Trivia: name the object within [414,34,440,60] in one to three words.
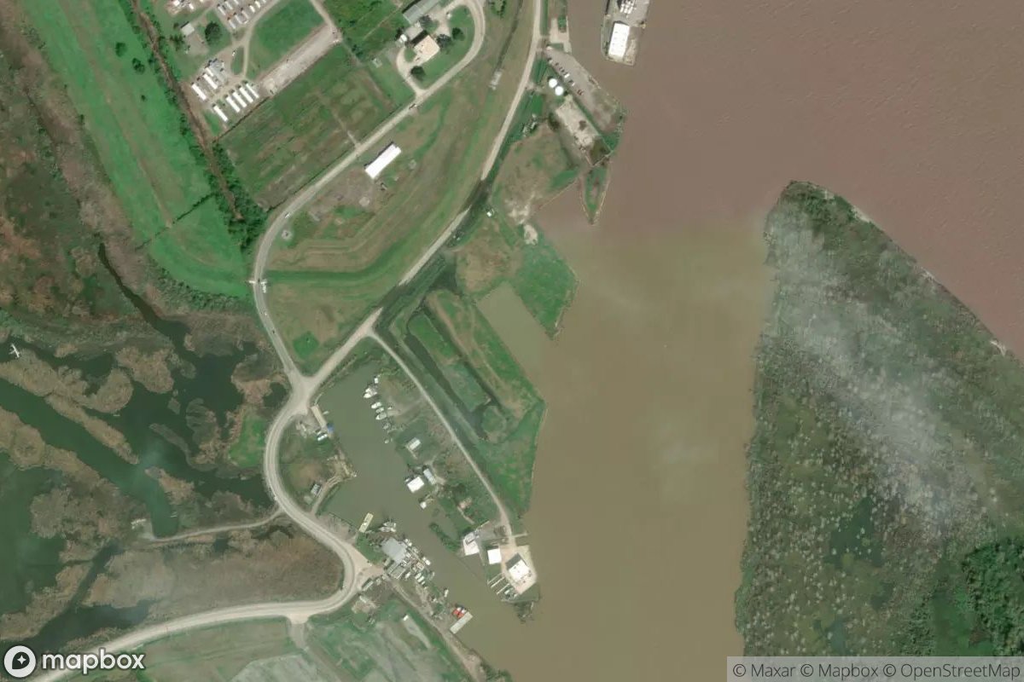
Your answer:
building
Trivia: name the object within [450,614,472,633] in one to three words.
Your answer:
ship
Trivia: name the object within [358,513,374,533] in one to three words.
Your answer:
ship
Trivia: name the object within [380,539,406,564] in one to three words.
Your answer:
shed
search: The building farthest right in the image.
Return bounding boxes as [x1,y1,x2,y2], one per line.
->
[608,22,630,58]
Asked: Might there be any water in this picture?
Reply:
Yes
